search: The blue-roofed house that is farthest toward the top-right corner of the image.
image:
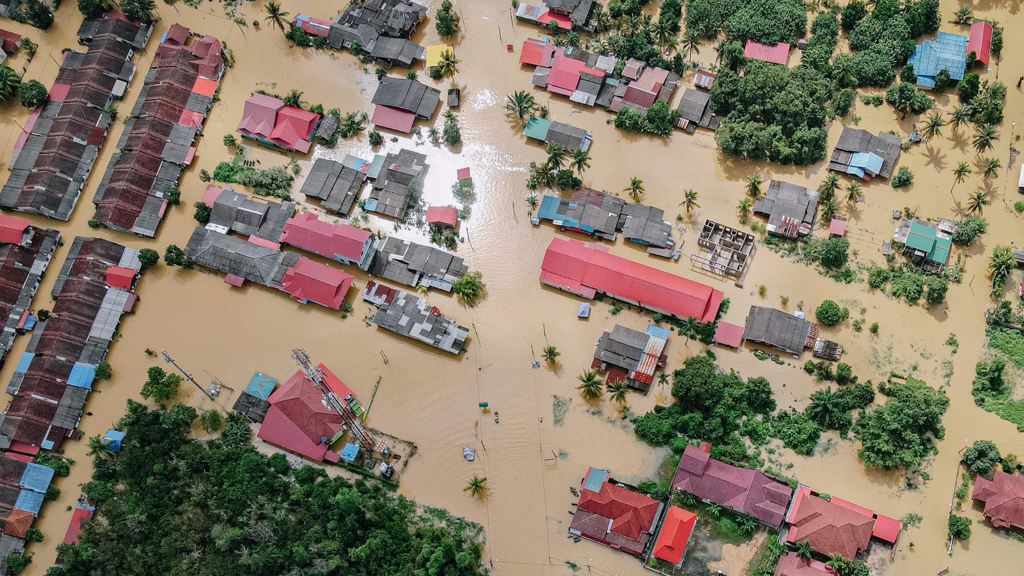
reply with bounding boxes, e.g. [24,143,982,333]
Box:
[909,32,967,89]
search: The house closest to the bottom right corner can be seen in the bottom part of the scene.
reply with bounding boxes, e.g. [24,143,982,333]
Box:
[971,470,1024,528]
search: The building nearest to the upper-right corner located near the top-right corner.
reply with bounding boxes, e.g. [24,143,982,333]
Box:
[968,21,993,69]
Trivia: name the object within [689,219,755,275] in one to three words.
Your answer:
building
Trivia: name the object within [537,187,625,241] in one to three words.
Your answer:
house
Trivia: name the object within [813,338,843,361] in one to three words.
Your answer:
shed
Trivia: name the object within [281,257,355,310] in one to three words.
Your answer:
house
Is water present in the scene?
Yes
